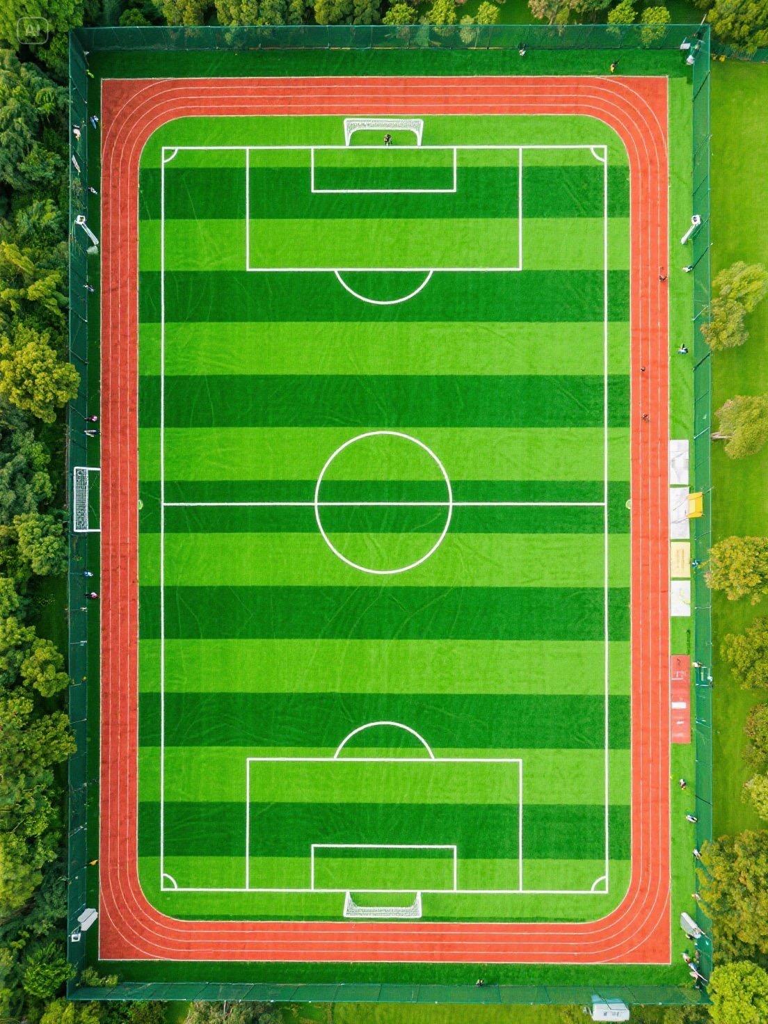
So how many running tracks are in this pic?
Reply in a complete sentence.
My tally gives 1 running track in this photo.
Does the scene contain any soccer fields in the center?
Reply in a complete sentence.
Yes, in the center there is a soccer field.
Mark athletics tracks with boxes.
[98,76,671,964]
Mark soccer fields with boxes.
[137,115,630,921]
